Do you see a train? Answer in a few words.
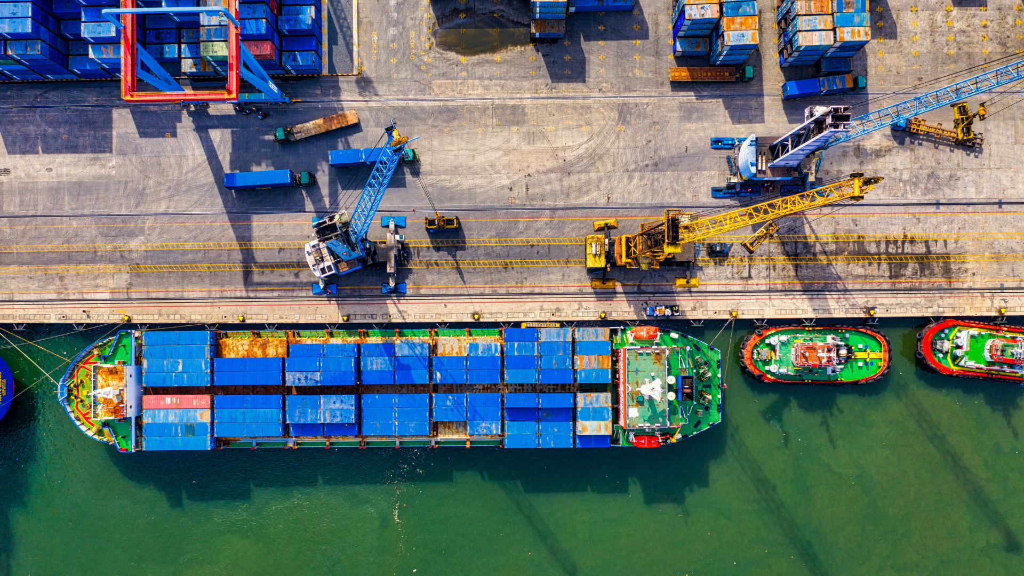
No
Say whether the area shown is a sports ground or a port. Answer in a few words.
port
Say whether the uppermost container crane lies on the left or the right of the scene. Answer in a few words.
left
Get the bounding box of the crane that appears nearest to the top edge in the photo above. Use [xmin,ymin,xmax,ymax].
[103,0,321,110]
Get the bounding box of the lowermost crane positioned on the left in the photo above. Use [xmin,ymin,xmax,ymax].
[303,117,437,295]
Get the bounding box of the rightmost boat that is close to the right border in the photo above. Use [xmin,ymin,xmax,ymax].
[914,318,1024,383]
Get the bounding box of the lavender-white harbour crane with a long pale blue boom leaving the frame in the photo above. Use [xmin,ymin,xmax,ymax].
[710,43,1024,198]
